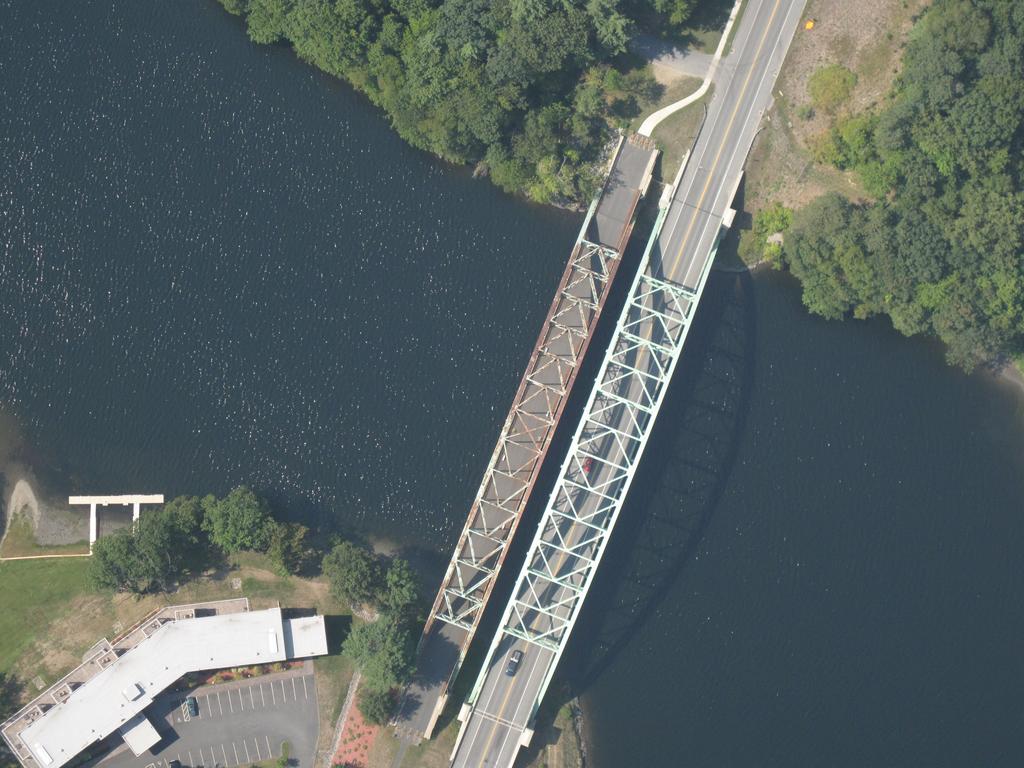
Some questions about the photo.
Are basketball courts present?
No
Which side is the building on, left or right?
left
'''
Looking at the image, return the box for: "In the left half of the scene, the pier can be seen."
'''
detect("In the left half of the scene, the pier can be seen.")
[69,495,165,553]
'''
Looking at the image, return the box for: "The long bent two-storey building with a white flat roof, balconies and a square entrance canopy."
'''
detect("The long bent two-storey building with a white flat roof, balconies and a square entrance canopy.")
[0,597,334,768]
